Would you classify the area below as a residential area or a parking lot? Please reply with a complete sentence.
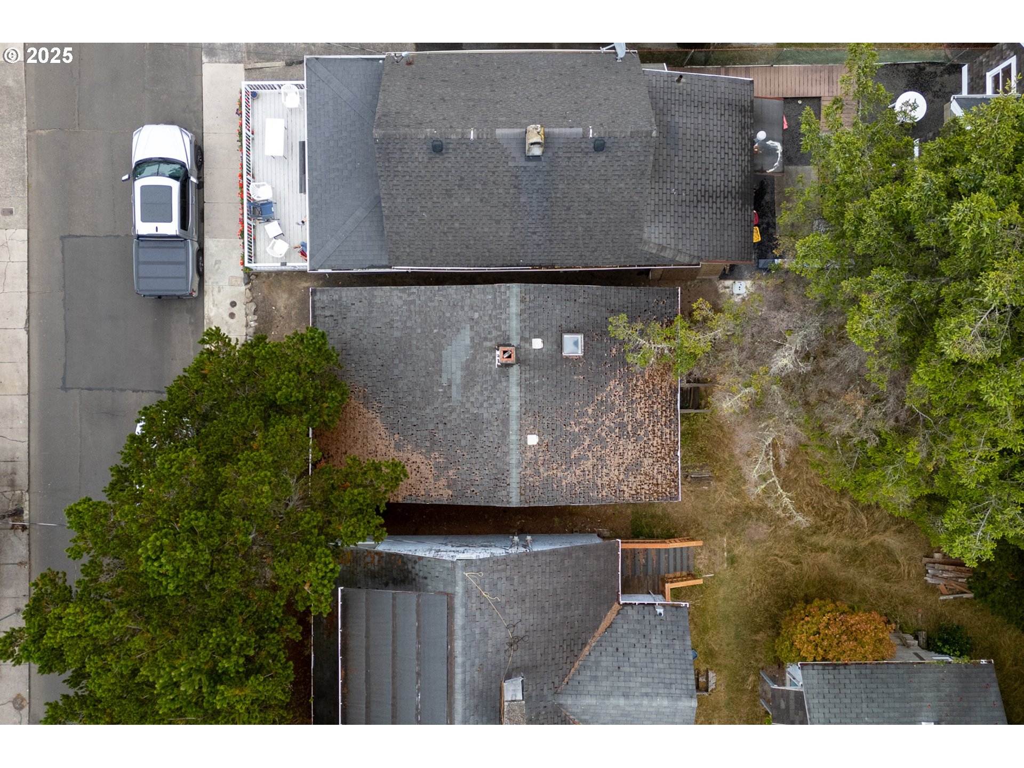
The picture captures a residential area.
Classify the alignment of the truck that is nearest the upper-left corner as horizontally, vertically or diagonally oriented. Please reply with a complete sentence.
From this overhead view, the truck that is nearest the upper-left corner appears to run vertically.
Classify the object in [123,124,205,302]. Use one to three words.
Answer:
truck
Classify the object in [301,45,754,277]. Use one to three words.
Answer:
house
